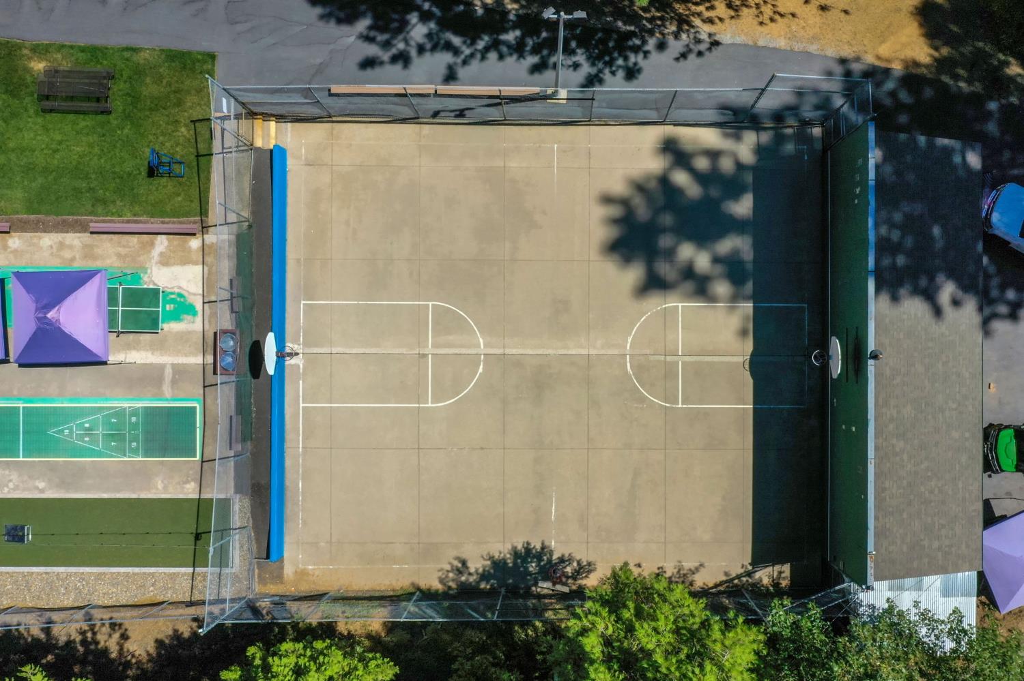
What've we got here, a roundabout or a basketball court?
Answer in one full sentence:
Looking from above, you can make out a basketball court.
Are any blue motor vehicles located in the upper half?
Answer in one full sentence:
Yes, a blue motor vehicle is visible in the upper half.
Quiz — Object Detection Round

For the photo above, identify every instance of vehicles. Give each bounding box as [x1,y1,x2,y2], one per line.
[983,186,1024,256]
[983,420,1024,479]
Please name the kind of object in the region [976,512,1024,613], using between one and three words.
tent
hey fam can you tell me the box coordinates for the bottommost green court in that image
[0,499,232,568]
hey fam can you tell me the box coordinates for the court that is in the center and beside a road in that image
[258,122,830,600]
